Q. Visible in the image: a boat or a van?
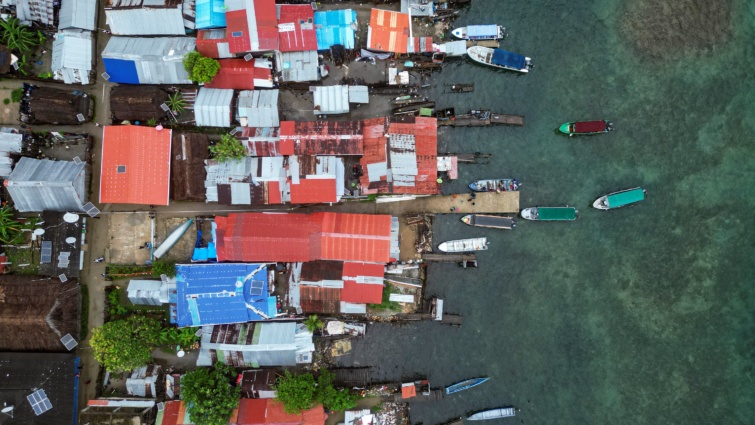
boat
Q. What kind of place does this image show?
residential area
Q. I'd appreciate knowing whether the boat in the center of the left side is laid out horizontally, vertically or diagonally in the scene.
diagonally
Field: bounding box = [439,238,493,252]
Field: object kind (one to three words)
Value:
boat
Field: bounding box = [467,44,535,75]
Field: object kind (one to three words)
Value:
boat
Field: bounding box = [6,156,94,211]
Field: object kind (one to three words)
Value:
house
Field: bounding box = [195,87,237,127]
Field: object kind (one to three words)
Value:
house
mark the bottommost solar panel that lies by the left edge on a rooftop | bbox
[27,390,52,415]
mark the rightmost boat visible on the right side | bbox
[594,184,650,207]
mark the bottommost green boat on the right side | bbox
[521,206,581,221]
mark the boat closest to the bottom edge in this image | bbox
[467,409,520,422]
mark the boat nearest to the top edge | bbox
[451,21,507,38]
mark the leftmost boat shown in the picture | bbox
[150,219,192,260]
